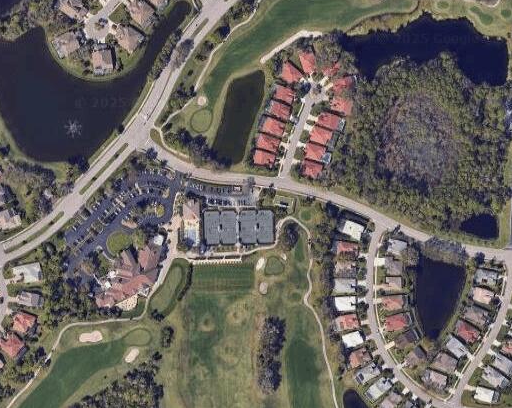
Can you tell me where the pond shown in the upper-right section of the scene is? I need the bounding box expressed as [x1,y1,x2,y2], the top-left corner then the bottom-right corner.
[343,13,510,87]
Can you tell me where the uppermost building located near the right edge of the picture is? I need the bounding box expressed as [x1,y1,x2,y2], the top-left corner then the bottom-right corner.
[473,266,498,285]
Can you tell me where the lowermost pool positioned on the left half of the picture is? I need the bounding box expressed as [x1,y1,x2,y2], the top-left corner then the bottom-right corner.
[184,220,199,247]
